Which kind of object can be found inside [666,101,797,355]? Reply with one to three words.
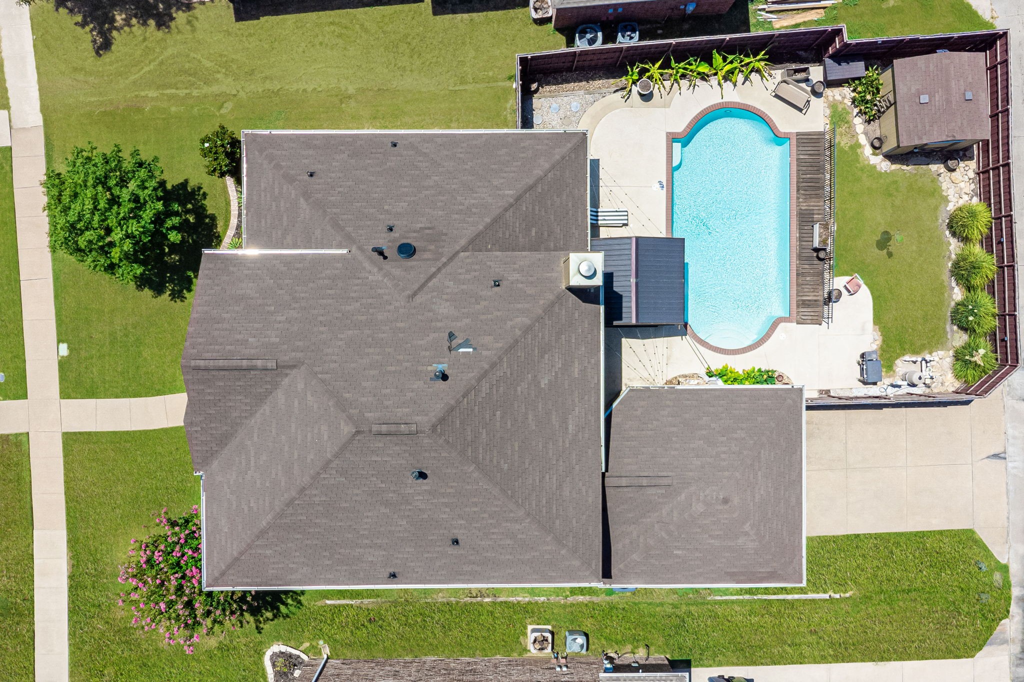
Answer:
swimming pool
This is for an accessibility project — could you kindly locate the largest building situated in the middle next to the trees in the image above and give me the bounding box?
[181,129,808,588]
